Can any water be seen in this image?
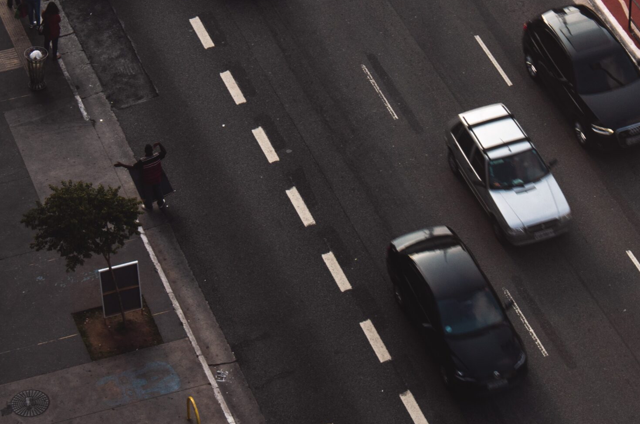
No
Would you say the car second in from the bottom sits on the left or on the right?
right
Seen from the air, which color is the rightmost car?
black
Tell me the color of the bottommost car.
black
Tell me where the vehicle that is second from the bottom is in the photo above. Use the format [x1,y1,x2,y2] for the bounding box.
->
[446,102,573,245]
